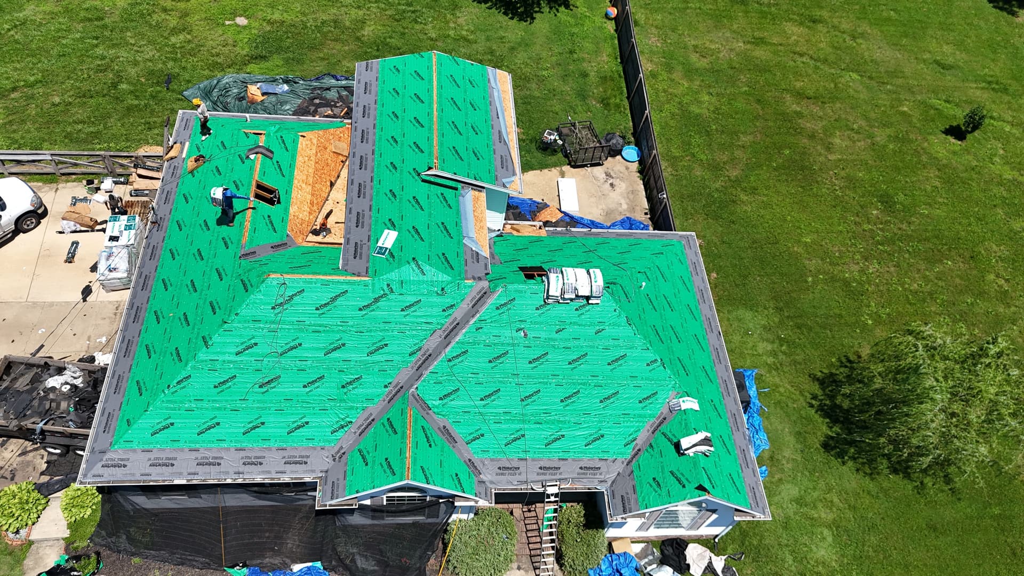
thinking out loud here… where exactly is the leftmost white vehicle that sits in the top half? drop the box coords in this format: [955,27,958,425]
[0,185,49,238]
